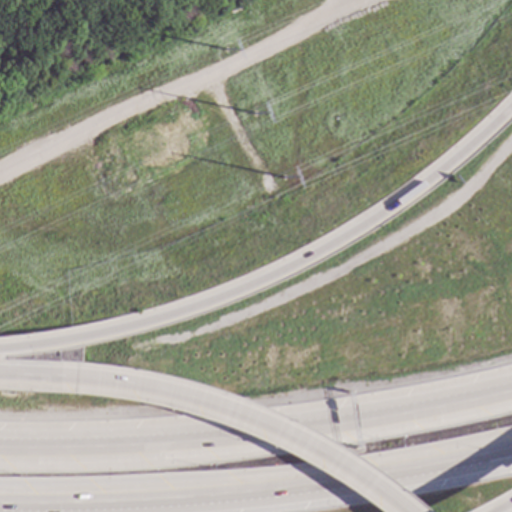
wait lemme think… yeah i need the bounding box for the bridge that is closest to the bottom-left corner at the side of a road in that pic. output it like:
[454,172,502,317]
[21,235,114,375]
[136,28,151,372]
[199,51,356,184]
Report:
[0,358,432,512]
